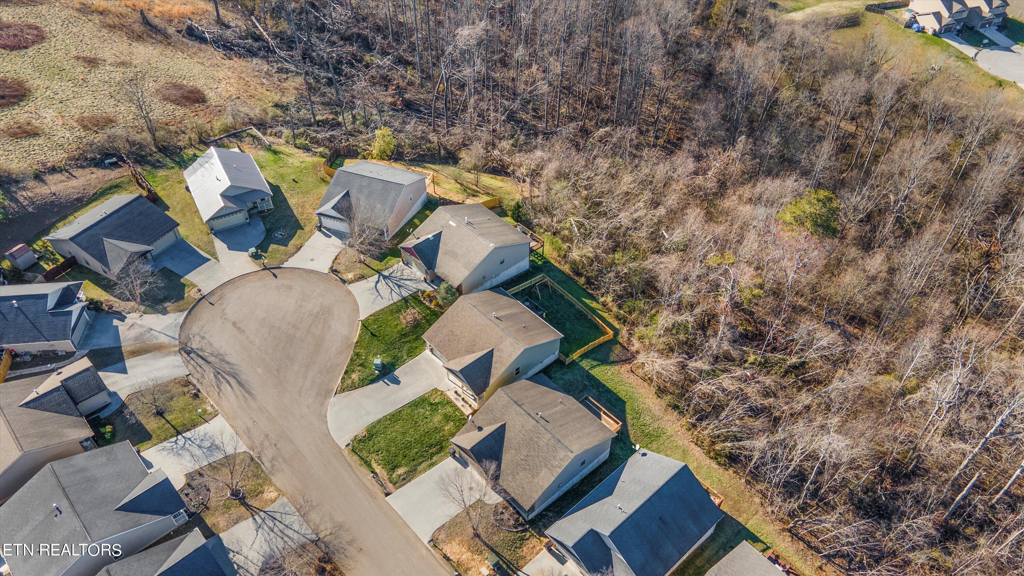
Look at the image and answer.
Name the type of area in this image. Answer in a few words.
residential area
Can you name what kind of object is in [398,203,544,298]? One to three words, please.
house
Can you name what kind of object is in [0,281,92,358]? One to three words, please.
house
